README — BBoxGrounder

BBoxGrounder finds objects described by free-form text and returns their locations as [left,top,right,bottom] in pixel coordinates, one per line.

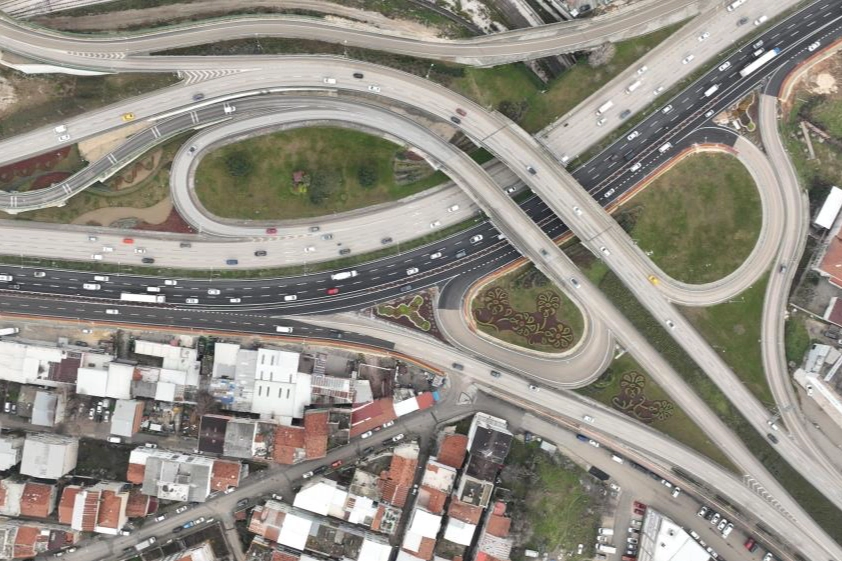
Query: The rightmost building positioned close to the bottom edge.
[651,510,717,561]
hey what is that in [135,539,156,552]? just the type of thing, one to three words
vehicle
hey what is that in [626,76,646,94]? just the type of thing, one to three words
vehicle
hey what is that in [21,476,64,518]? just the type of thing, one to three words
house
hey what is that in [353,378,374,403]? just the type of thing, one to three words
shed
